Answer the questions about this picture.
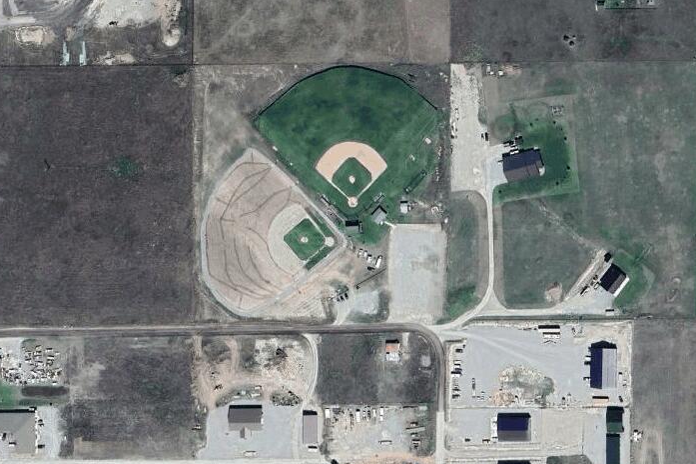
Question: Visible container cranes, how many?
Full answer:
There are no container cranes in the image.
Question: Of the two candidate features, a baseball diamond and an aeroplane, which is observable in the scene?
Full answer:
There is a baseball diamond in the scene.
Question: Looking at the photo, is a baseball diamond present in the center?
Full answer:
Yes, the scene does show a baseball diamond in the center.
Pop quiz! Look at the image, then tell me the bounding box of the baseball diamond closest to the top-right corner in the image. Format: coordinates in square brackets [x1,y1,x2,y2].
[257,65,443,233]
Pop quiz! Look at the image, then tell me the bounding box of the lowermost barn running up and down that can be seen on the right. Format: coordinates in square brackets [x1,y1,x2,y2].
[607,436,621,464]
